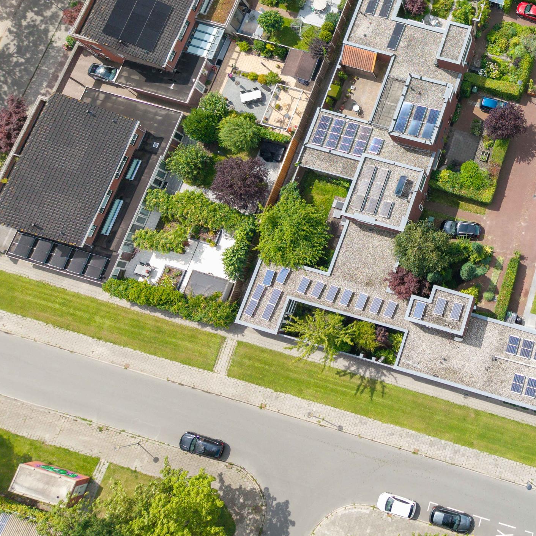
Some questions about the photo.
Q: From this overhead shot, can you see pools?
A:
No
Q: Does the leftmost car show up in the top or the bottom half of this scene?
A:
top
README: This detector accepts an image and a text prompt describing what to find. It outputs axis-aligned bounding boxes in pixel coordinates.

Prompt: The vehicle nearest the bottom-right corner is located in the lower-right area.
[427,506,474,534]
